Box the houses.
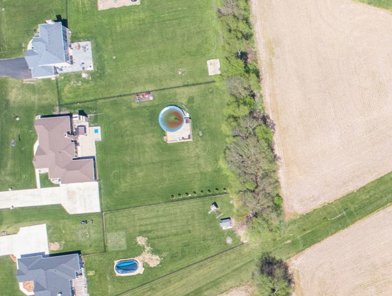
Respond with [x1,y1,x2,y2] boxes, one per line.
[16,252,83,296]
[34,116,98,184]
[26,18,73,78]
